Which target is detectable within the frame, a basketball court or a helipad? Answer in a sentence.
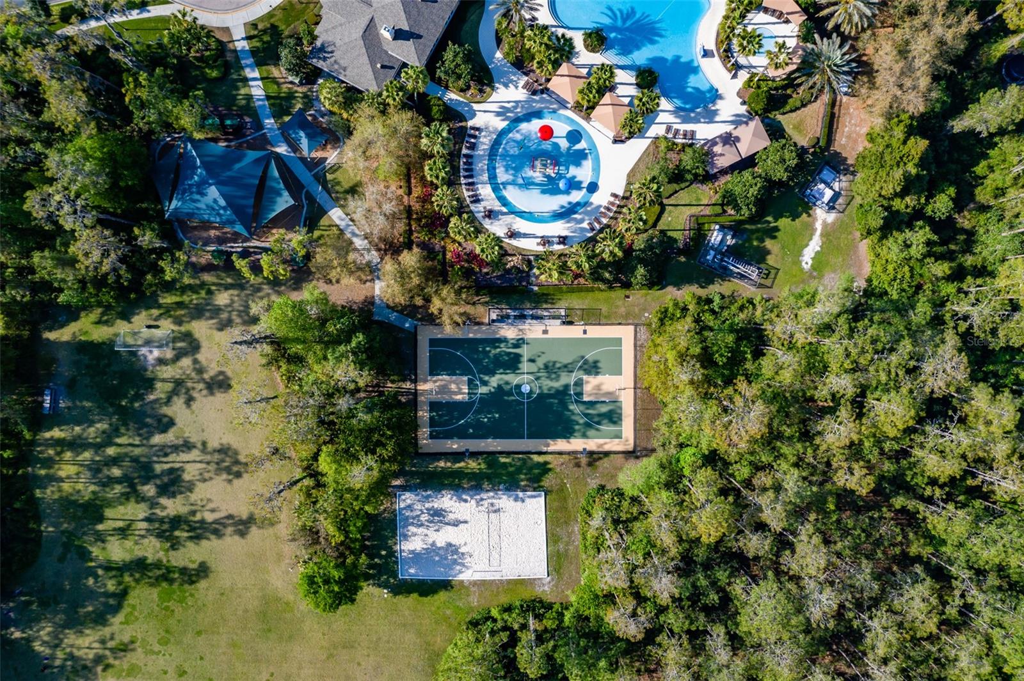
The one in the frame is a basketball court.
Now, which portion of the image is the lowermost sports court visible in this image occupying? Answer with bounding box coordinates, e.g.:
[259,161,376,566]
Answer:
[397,491,548,580]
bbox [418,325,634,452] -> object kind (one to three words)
basketball court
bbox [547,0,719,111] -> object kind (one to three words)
swimming pool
